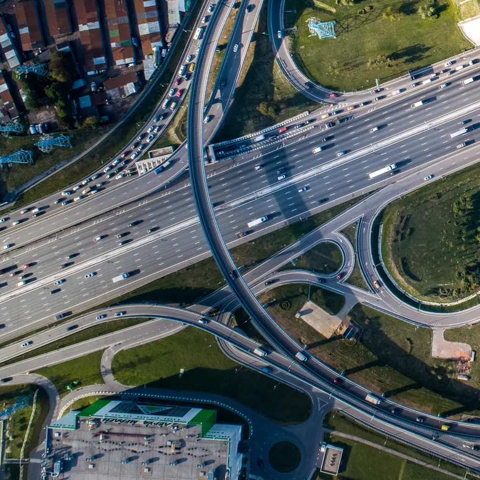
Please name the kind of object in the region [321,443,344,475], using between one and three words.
shed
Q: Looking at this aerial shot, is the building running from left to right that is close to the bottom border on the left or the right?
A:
left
